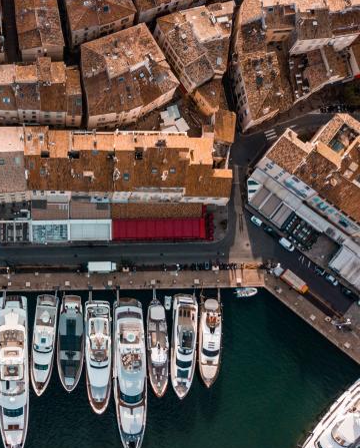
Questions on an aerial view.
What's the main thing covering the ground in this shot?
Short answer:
buildings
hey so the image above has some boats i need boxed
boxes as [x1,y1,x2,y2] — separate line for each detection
[168,287,200,406]
[56,290,85,399]
[31,288,58,404]
[164,294,171,310]
[0,291,29,448]
[142,292,169,403]
[82,292,114,422]
[194,290,225,395]
[233,288,257,298]
[112,292,149,448]
[302,381,360,448]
